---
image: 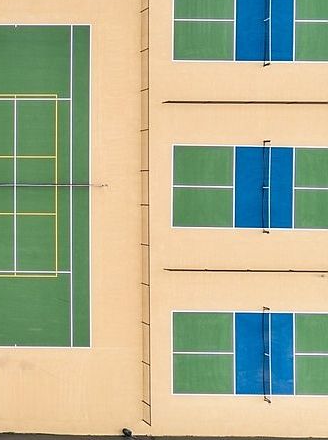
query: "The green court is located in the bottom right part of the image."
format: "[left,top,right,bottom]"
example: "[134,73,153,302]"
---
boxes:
[172,311,328,395]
